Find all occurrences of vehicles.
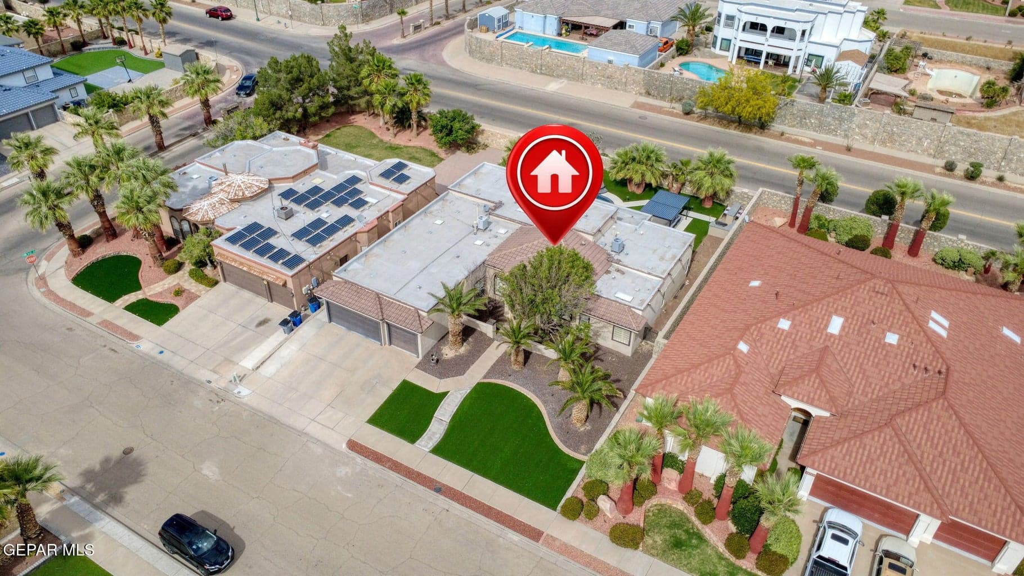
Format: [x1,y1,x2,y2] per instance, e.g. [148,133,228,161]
[235,77,265,98]
[812,508,869,576]
[655,37,684,57]
[878,534,928,576]
[205,6,234,21]
[156,508,237,572]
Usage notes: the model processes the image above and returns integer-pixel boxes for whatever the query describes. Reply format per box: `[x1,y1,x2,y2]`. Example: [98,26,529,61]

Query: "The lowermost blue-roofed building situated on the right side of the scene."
[640,188,690,227]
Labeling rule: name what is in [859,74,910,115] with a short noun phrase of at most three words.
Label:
building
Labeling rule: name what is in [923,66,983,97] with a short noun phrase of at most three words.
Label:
swimming pool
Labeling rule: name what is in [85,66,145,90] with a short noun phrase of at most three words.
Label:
sports court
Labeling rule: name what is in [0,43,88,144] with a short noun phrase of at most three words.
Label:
house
